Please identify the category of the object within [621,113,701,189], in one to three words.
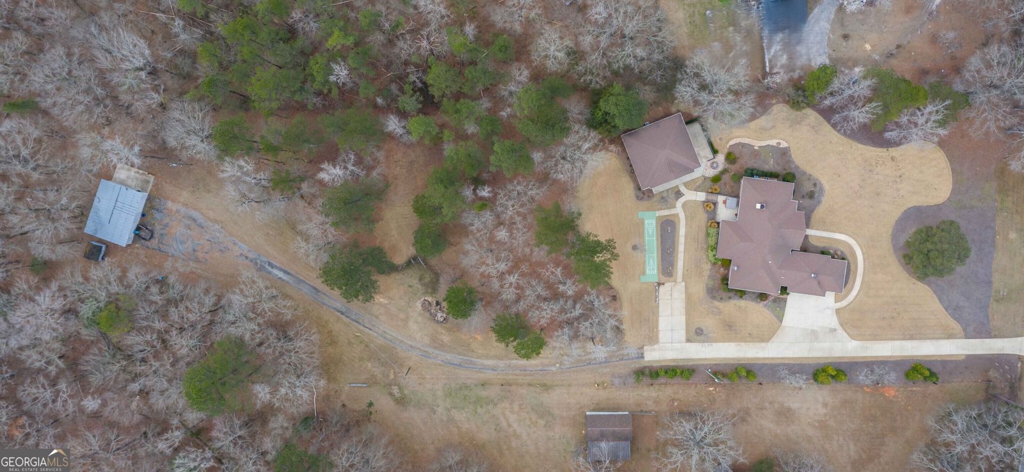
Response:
house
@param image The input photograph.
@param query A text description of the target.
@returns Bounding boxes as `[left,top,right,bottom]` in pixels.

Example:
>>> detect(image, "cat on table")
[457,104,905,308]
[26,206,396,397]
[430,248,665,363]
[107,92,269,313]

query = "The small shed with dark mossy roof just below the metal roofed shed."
[84,242,108,261]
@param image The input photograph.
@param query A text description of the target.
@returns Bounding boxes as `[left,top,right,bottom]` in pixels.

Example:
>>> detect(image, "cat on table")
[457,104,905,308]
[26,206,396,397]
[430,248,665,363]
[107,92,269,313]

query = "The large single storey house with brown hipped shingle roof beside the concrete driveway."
[715,177,848,297]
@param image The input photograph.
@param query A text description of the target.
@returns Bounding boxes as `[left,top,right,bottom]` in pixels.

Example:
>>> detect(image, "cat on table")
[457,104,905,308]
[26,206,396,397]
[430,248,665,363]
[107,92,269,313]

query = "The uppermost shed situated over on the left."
[85,180,154,247]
